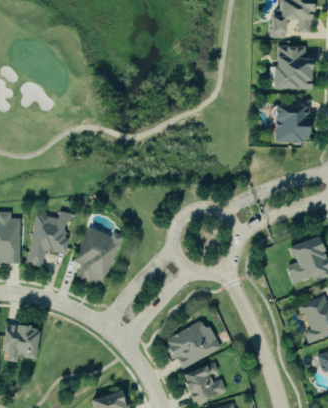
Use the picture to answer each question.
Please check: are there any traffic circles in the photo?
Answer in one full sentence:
Yes, the photo shows a traffic circle.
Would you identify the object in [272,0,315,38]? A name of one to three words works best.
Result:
house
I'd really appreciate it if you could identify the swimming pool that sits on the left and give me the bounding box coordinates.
[88,213,121,236]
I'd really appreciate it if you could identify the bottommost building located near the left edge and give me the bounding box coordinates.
[4,324,40,363]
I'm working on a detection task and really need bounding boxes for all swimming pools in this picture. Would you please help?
[88,213,121,236]
[262,0,278,23]
[260,104,275,128]
[292,313,308,342]
[312,357,328,393]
